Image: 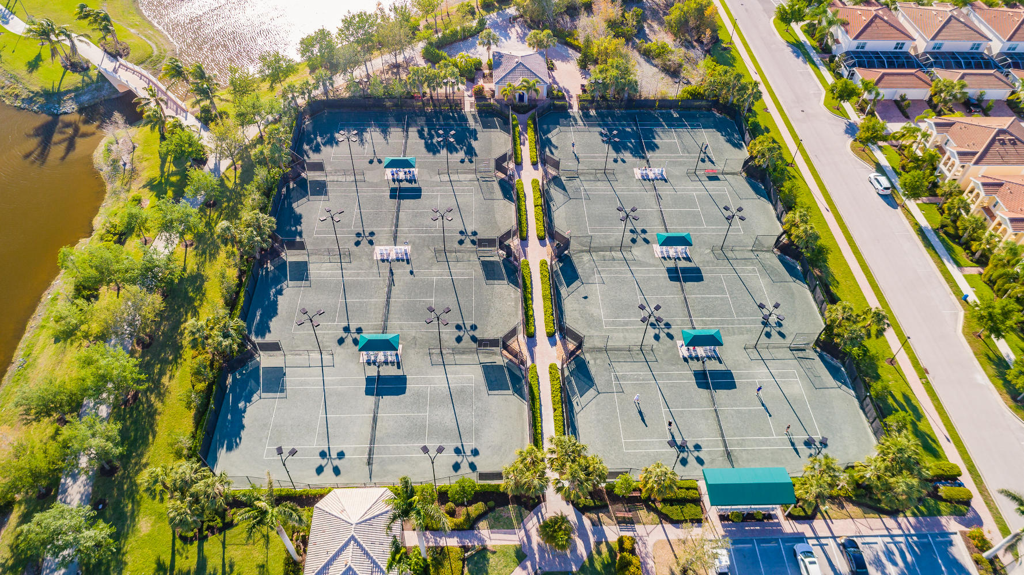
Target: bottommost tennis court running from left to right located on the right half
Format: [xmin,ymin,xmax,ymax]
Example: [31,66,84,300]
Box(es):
[562,347,879,481]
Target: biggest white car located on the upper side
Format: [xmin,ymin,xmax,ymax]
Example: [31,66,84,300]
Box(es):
[870,174,892,194]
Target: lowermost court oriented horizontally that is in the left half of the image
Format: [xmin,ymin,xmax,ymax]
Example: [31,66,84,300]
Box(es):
[207,352,530,489]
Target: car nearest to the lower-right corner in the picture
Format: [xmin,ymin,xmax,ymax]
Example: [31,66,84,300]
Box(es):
[841,538,873,575]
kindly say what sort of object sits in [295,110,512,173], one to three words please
tennis court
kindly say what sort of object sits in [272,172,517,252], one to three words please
tennis court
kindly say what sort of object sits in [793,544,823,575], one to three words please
car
